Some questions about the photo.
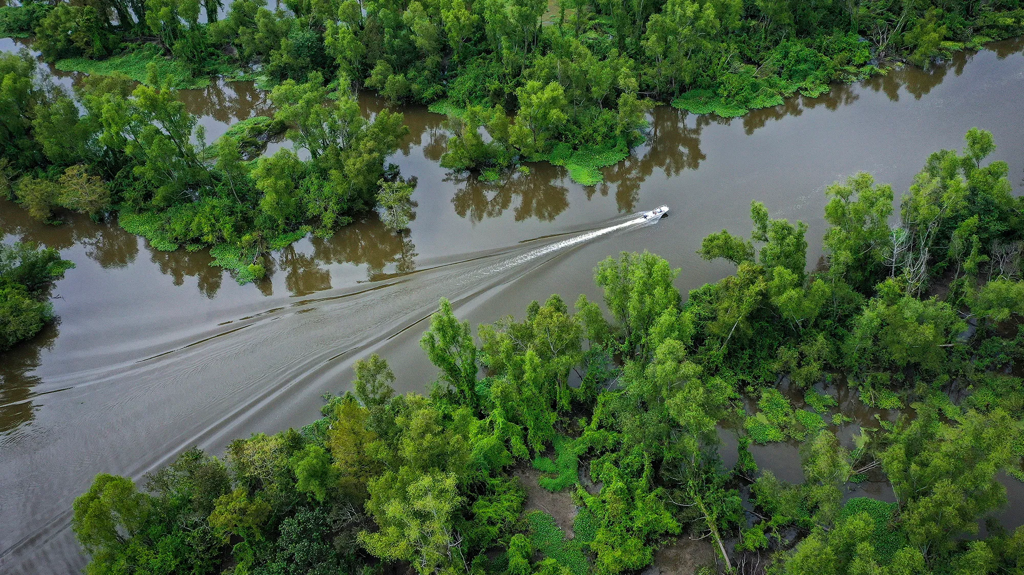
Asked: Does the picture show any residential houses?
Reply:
No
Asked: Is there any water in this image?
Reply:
Yes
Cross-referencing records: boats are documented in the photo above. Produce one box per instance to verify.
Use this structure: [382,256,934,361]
[642,201,670,221]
